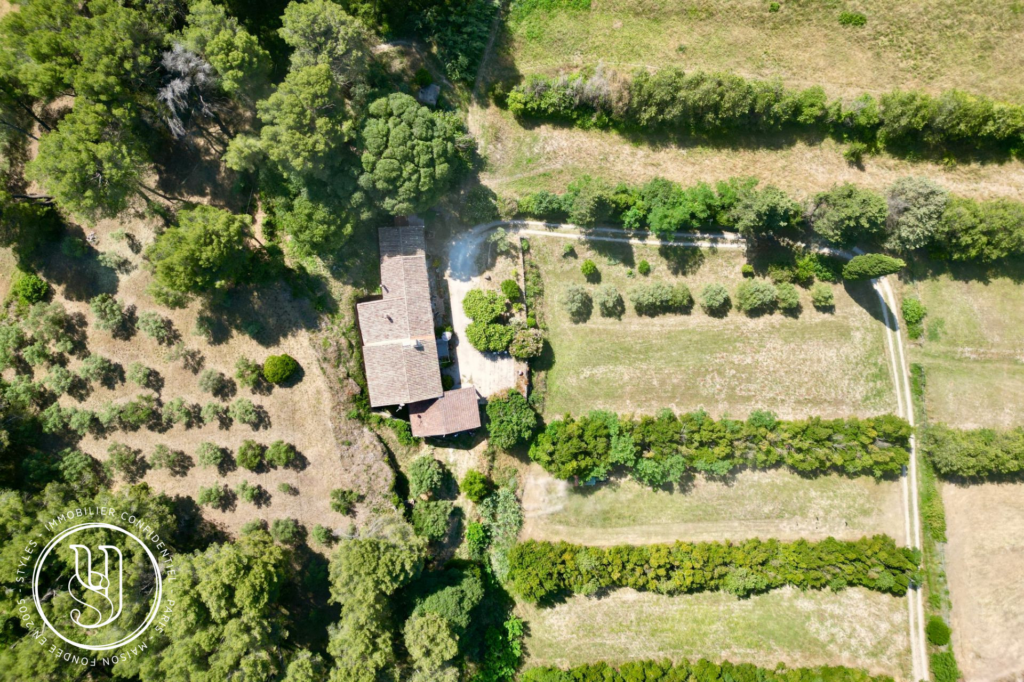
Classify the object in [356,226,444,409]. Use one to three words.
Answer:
house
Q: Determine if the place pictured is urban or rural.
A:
rural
